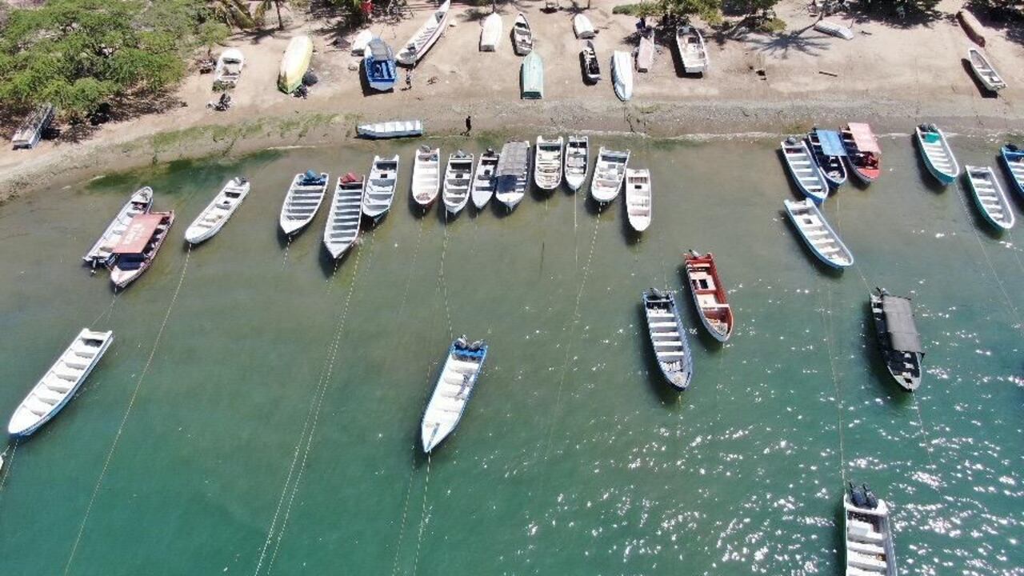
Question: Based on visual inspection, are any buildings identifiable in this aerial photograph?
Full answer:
No, there's no building here.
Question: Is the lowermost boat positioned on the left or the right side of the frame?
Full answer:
The lowermost boat sits on the right side.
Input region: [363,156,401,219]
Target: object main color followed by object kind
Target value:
white boat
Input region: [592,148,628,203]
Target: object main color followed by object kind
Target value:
white boat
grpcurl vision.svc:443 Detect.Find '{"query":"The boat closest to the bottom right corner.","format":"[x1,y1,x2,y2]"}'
[841,483,896,576]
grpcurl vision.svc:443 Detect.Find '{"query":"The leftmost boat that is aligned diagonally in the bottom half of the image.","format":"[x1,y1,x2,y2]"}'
[8,329,115,434]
